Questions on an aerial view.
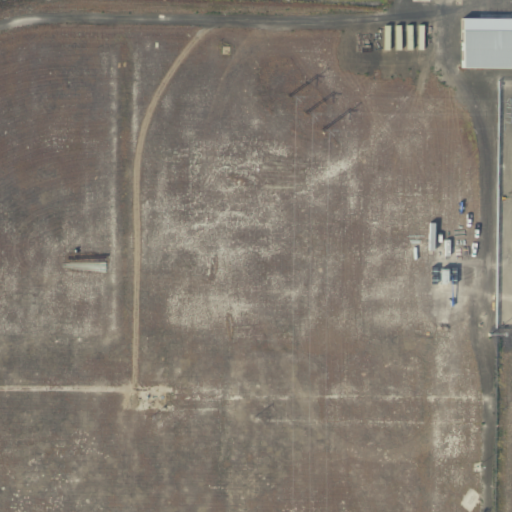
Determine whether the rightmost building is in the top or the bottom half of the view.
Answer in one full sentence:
You can find the rightmost building in the top half.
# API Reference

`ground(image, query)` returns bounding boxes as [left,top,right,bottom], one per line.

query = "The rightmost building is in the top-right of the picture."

[460,17,512,69]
